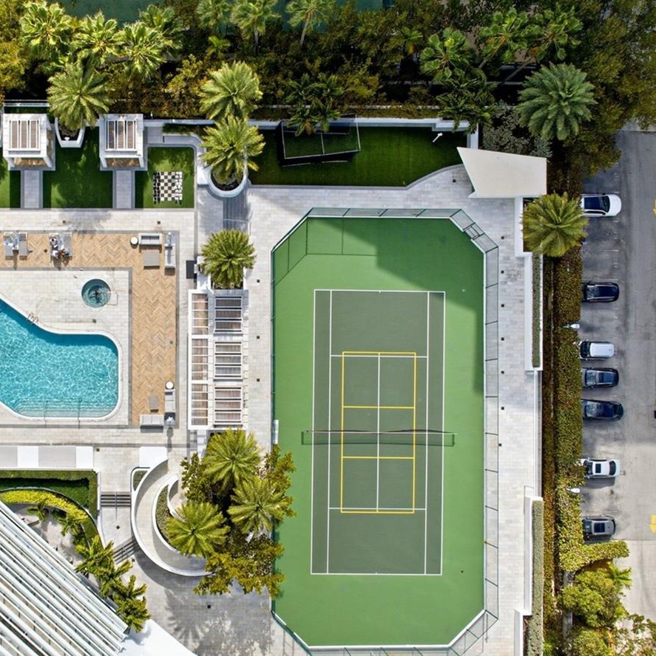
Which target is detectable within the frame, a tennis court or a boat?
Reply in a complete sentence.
It is a tennis court that can be seen here.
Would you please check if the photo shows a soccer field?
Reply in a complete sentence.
No, the photo shows no soccer field.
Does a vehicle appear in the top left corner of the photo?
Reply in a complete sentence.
No, no vehicle can be made out in the top left corner of the photo.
